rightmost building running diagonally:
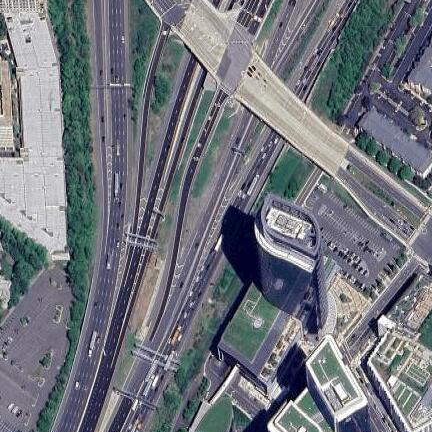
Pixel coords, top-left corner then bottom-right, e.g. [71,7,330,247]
[359,108,432,179]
